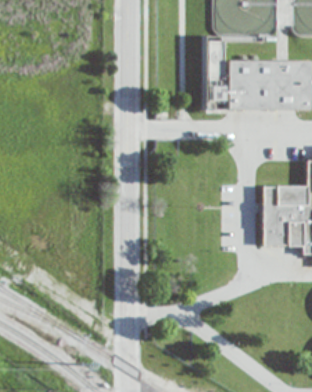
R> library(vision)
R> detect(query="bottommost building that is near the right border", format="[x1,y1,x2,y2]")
[262,160,312,267]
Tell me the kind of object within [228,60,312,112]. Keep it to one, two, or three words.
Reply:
building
